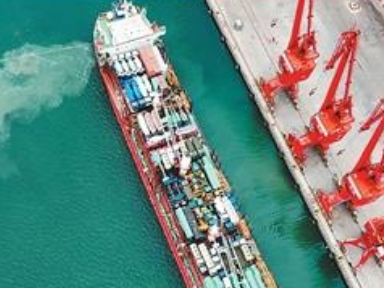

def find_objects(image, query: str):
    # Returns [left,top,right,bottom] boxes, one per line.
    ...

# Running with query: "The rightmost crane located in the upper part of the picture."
[284,26,365,163]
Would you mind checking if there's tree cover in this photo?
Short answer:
No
